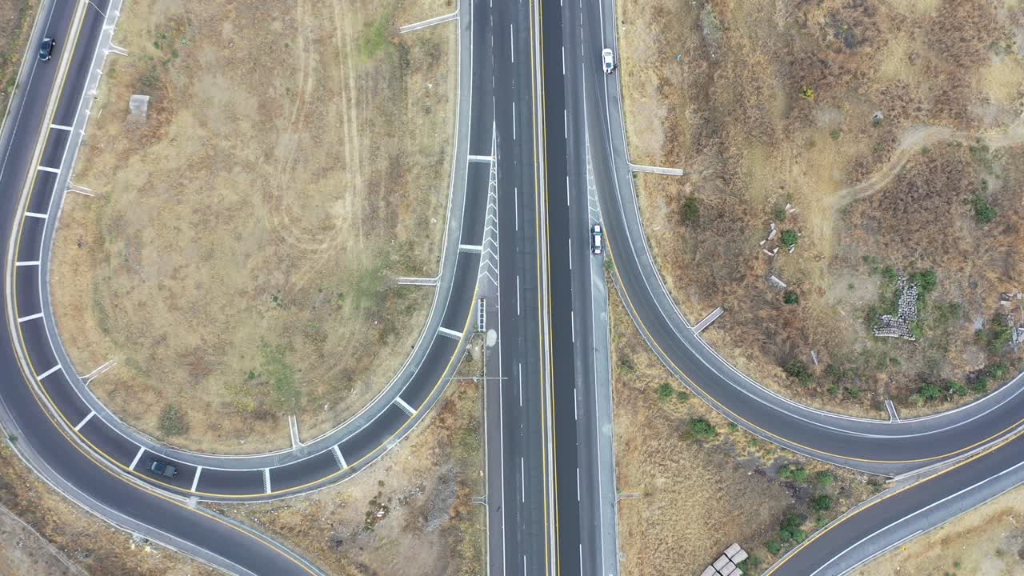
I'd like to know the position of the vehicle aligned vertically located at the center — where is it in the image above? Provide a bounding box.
[591,226,604,252]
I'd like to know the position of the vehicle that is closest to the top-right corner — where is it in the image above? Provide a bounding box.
[603,49,615,71]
